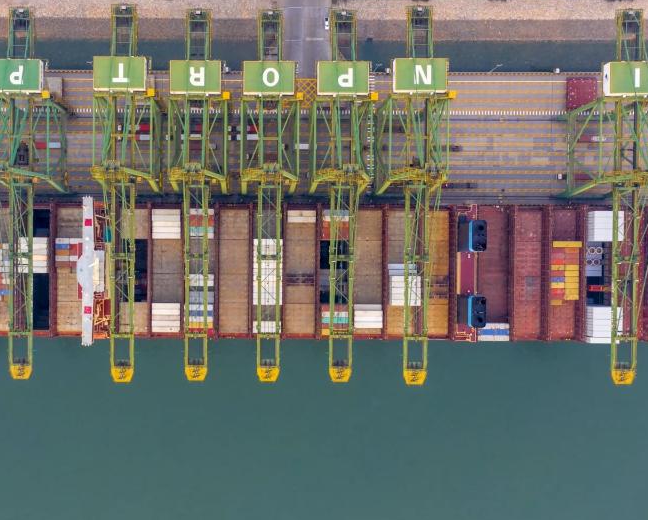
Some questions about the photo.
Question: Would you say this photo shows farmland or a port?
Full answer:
This image shows a port.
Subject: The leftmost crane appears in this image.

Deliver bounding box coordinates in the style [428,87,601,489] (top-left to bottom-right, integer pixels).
[0,6,78,379]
